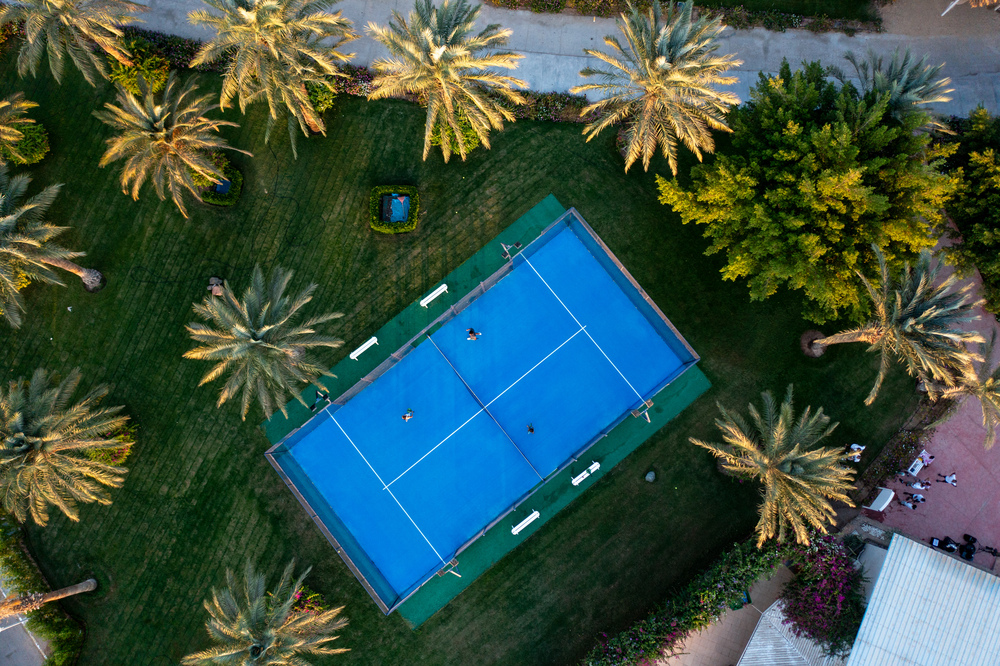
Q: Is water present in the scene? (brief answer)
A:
No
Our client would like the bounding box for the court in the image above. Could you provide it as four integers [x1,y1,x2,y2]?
[262,194,715,632]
